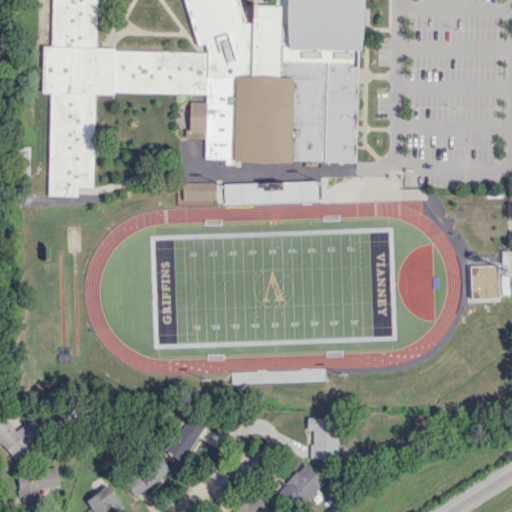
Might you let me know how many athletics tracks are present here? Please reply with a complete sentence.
Only 1 athletics track is visible.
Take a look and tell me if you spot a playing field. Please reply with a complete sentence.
Yes, there is a playing field in the image.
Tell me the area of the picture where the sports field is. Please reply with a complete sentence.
The sports field sits in the center section of the image.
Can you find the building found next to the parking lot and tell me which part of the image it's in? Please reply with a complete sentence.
The building found next to the parking lot sits in the top section of the image.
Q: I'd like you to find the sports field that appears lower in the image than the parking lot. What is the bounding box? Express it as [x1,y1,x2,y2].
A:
[102,218,446,360]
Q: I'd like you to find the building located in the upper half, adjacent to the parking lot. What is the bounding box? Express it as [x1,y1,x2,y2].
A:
[42,0,366,198]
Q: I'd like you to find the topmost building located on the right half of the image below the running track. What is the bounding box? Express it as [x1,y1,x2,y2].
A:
[310,418,339,460]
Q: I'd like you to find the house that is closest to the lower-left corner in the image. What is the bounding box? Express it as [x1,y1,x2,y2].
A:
[18,467,61,500]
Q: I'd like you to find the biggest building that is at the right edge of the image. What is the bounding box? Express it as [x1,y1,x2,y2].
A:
[472,265,501,299]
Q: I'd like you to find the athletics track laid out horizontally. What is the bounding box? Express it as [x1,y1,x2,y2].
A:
[86,201,462,375]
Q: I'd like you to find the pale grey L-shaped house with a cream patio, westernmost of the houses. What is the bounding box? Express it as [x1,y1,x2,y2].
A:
[0,418,28,461]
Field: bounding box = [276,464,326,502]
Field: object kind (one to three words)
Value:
house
